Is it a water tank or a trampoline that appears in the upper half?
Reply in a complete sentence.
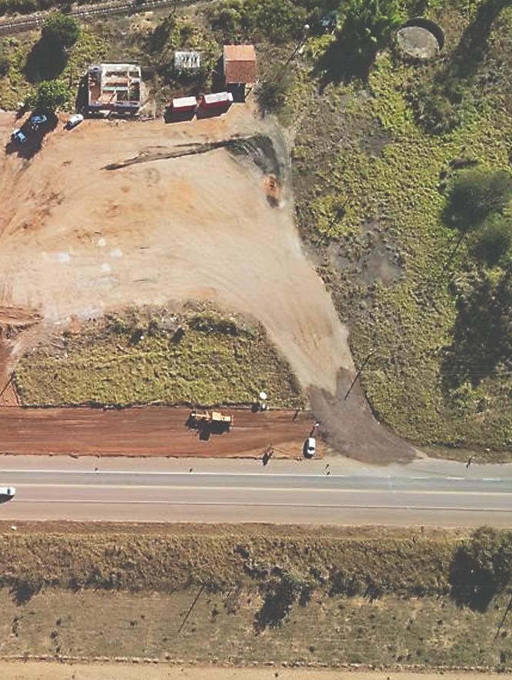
You can see a water tank in the upper half.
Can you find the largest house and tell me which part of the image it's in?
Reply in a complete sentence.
The largest house appears toward the top left of the photo.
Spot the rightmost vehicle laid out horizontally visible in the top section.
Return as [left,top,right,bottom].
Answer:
[202,92,234,110]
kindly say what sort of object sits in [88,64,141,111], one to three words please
house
